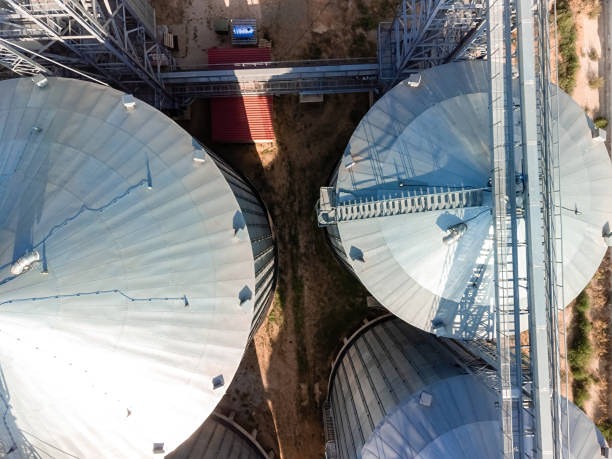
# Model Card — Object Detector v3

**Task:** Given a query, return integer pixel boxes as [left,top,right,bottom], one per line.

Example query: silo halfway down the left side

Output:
[0,78,278,459]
